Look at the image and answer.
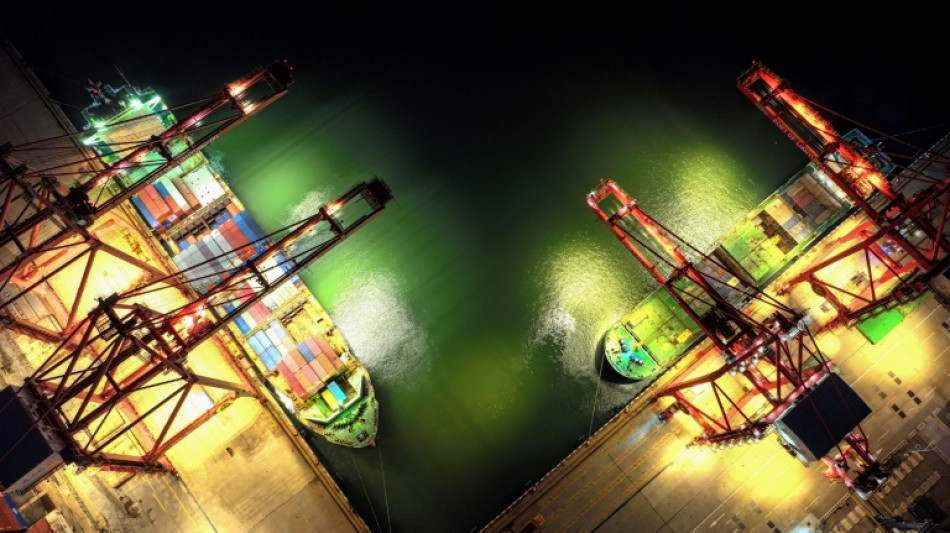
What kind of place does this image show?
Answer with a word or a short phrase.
port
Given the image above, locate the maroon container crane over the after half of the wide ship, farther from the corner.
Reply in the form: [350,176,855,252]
[0,55,295,355]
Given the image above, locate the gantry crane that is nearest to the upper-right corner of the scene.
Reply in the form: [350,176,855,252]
[731,56,950,333]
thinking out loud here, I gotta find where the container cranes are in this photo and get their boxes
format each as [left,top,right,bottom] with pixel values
[731,56,950,333]
[0,168,397,501]
[577,167,897,507]
[0,55,295,355]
